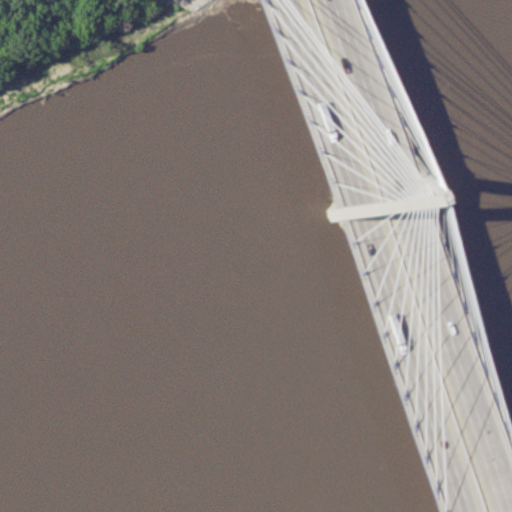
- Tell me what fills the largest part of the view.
water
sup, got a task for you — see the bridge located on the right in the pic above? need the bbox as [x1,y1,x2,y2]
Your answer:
[262,0,512,512]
